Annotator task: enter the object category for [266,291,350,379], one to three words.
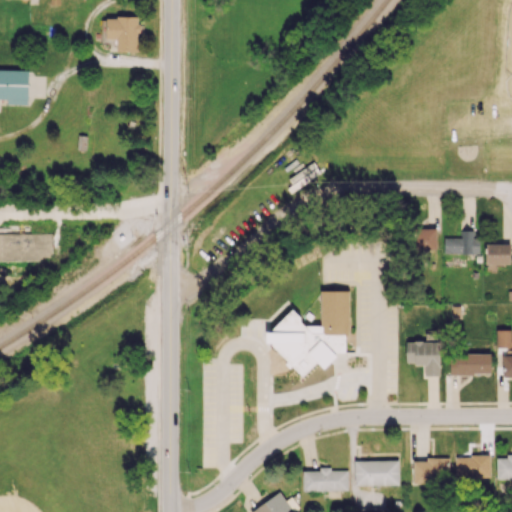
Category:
building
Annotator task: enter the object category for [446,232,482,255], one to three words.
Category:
house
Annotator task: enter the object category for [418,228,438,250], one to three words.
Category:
house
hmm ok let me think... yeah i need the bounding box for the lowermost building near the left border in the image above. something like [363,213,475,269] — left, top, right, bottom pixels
[0,234,54,262]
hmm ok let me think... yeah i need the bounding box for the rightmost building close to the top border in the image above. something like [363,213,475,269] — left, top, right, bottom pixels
[102,16,146,52]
